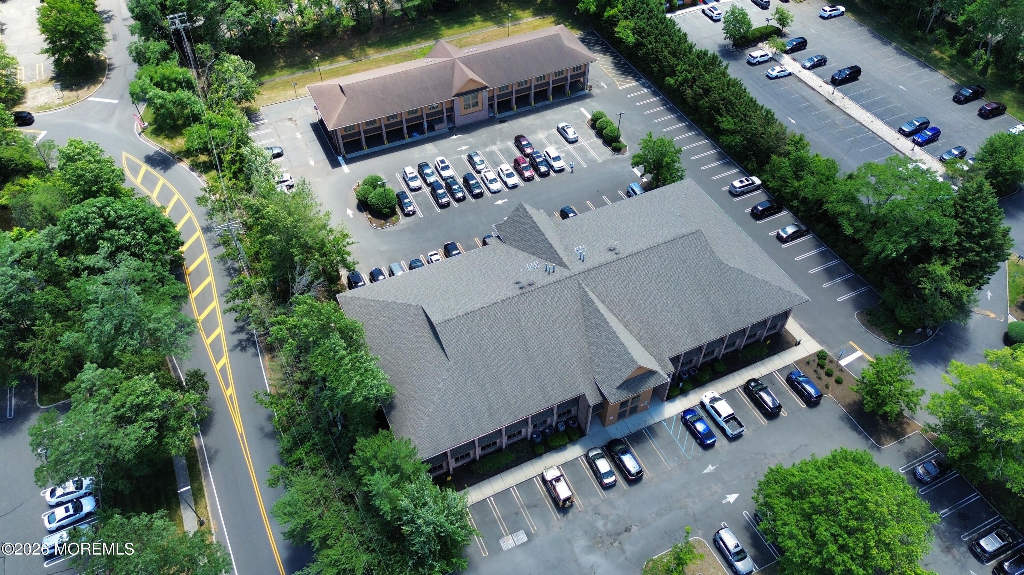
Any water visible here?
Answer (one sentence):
No, the picture contains no water.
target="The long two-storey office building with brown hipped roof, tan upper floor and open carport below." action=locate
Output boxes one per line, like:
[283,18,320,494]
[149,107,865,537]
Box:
[306,25,597,158]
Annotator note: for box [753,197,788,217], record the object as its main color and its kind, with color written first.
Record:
black car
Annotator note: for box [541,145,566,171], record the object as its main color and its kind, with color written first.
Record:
white car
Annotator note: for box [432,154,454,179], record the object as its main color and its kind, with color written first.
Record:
white car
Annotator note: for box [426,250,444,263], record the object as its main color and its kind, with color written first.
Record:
white vehicle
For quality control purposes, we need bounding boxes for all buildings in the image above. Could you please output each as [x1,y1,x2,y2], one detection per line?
[306,25,597,158]
[341,178,811,481]
[662,0,700,8]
